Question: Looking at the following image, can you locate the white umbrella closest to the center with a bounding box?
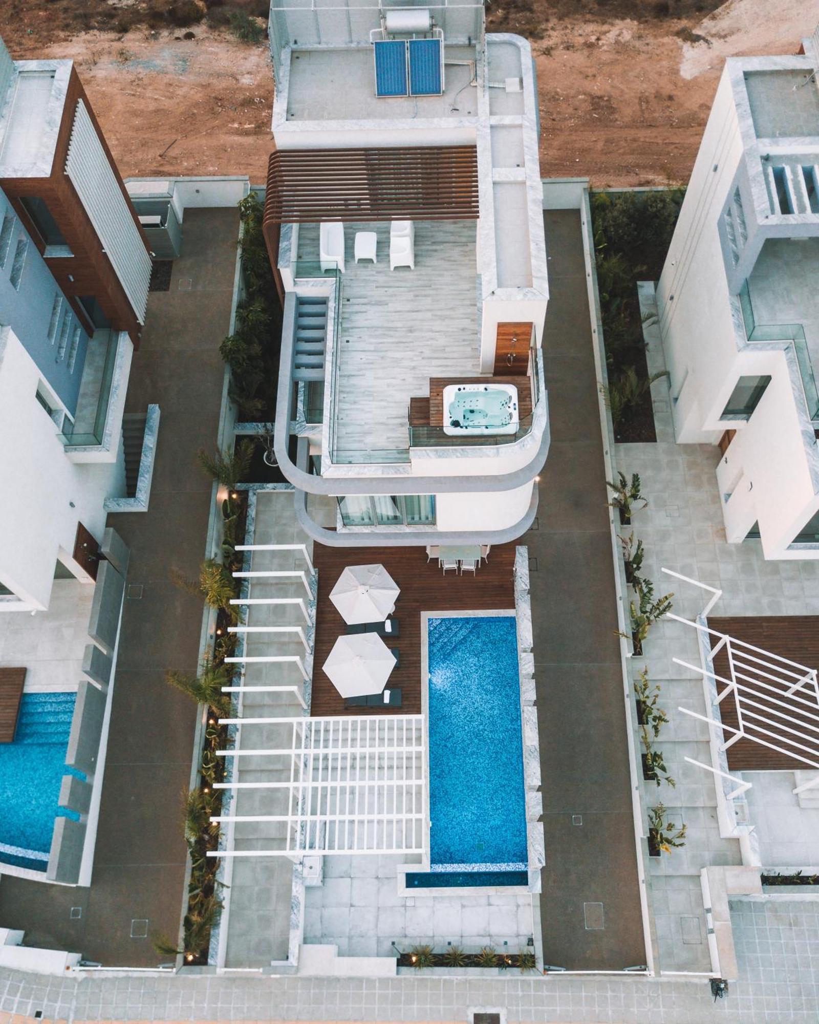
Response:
[328,563,401,628]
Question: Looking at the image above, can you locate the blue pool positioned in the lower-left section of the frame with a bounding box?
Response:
[0,682,101,885]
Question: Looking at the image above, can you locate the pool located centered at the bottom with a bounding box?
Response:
[397,610,528,896]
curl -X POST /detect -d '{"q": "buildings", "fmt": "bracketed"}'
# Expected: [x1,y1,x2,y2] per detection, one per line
[659,0,819,560]
[266,32,558,548]
[0,0,152,623]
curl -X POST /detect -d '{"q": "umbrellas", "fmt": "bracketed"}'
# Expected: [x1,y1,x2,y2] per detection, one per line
[328,563,401,628]
[322,631,397,699]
